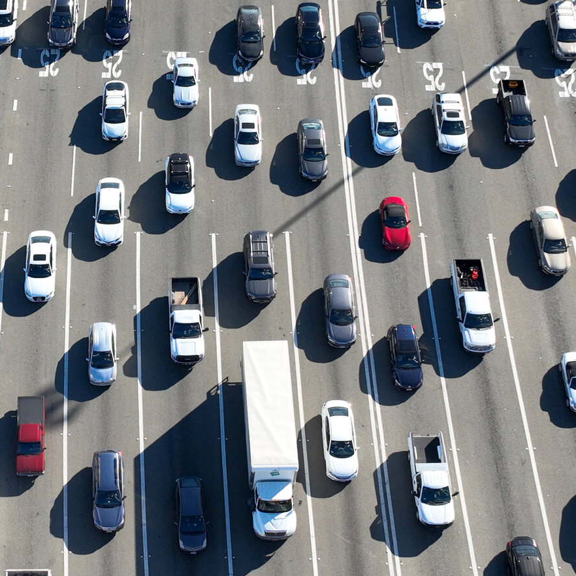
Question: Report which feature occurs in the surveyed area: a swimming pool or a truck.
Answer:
truck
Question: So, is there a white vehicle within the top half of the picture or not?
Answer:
Yes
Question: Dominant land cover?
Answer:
paved ground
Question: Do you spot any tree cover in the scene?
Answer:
No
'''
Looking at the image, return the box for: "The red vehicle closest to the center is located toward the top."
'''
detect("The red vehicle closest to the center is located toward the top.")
[377,198,413,251]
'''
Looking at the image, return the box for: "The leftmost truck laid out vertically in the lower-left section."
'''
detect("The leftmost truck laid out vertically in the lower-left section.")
[11,393,48,476]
